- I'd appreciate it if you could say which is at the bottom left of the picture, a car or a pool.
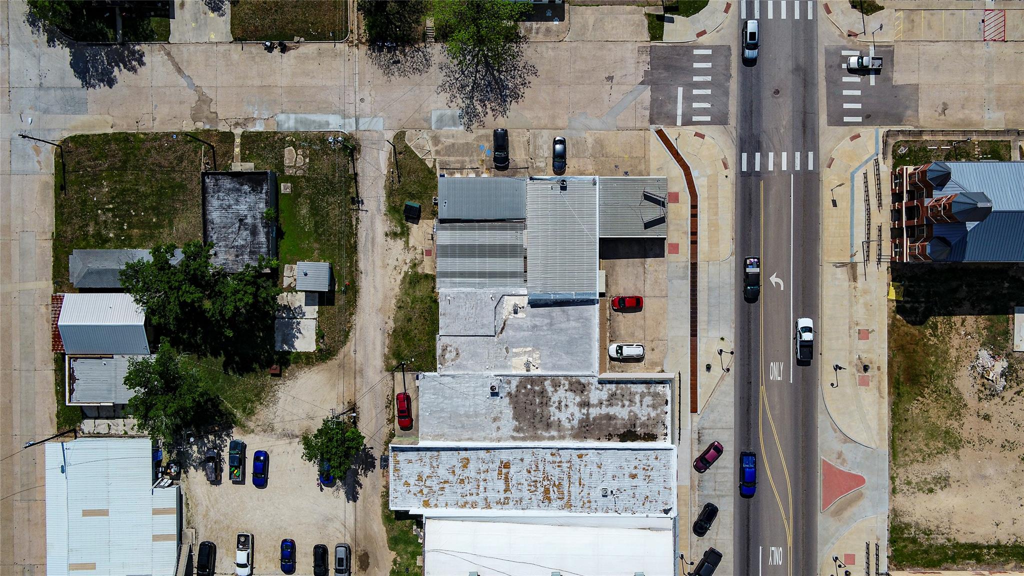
car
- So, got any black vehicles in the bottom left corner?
Yes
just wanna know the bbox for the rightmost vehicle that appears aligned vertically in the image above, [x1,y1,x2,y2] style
[795,318,814,360]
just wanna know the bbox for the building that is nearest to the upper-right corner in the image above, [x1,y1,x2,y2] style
[888,160,1024,270]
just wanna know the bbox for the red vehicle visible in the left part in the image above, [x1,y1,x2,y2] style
[396,391,412,427]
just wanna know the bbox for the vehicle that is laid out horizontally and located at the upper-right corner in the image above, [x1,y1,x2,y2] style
[845,54,883,71]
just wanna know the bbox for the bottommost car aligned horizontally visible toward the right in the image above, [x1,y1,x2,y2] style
[608,343,645,360]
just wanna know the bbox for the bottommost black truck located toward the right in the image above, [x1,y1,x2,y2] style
[688,546,721,576]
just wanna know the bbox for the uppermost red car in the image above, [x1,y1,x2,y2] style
[610,295,644,310]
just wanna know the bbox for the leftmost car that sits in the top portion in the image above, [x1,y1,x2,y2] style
[492,128,510,169]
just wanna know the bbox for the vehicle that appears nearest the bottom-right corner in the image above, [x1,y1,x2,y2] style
[739,451,758,496]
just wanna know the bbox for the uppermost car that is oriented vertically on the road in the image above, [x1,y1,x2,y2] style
[741,20,760,59]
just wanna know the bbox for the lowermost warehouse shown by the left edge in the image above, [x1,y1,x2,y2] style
[46,433,185,576]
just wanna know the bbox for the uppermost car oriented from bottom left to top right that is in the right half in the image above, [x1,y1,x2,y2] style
[694,439,724,473]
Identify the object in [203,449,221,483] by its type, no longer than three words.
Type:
vehicle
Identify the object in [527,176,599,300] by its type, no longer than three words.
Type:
building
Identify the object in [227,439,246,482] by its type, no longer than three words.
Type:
vehicle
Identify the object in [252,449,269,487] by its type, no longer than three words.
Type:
car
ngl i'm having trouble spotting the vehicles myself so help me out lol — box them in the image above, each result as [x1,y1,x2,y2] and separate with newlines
[227,439,246,482]
[313,543,329,576]
[610,295,644,310]
[551,135,567,173]
[739,451,758,496]
[319,455,333,487]
[688,546,721,576]
[692,500,719,537]
[252,449,269,487]
[694,439,724,473]
[334,541,351,576]
[743,256,762,302]
[195,540,215,576]
[492,128,510,169]
[741,20,760,59]
[795,318,814,360]
[396,391,412,427]
[236,533,254,576]
[203,449,221,483]
[279,538,296,574]
[845,54,883,71]
[608,343,645,360]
